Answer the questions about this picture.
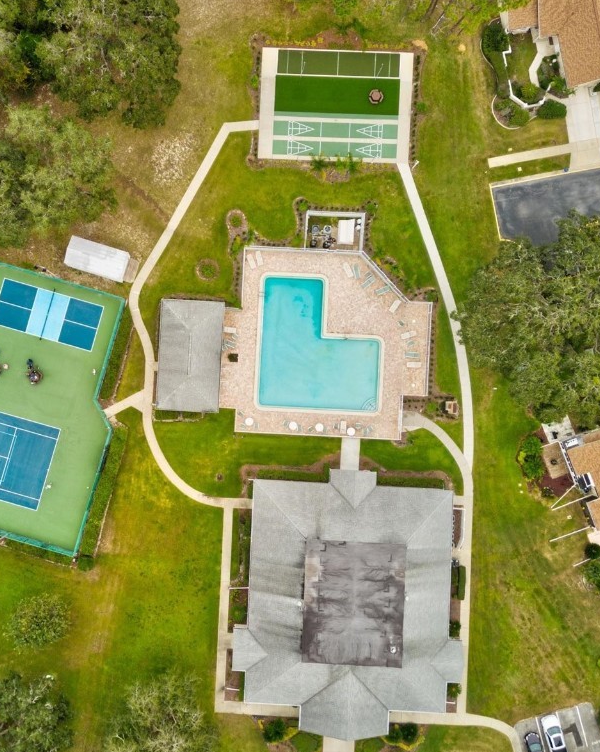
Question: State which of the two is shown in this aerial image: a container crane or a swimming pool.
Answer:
swimming pool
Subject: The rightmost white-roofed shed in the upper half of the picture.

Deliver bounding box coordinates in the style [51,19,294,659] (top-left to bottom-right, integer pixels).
[338,220,354,245]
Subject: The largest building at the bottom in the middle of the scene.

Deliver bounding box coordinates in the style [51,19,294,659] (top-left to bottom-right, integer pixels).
[231,468,465,741]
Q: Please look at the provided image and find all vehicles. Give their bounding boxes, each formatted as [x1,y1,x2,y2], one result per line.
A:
[524,732,544,752]
[540,713,567,752]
